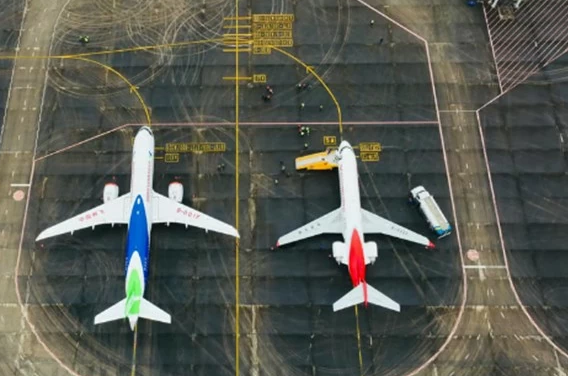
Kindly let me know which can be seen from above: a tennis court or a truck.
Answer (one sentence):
This aerial view contains a truck.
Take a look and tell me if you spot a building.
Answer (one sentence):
No, I can't see a single building in this photo.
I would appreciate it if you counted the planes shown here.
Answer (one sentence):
The photo contains 2 planes.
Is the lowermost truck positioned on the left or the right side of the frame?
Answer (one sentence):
It is on the right.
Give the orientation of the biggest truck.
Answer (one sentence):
In this picture, the biggest truck lies at an angle.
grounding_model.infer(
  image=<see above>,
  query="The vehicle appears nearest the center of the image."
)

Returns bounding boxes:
[295,152,337,172]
